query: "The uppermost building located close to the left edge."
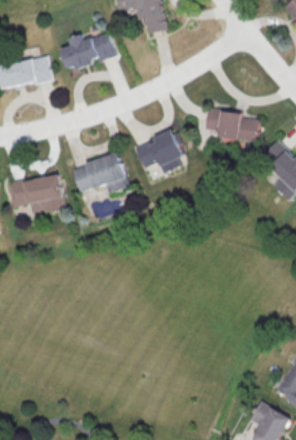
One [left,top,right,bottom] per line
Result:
[0,54,55,90]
